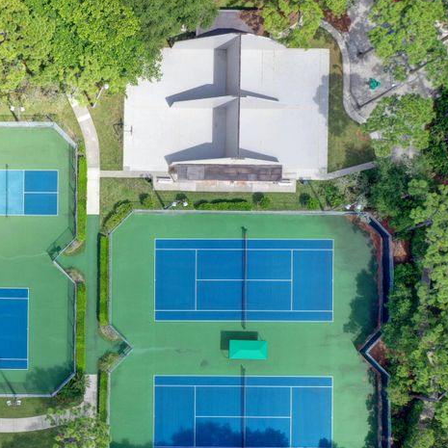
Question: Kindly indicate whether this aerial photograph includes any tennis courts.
Yes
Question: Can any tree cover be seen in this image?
Yes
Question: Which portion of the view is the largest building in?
top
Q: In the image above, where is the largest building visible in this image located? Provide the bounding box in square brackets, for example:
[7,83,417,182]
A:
[123,9,330,184]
